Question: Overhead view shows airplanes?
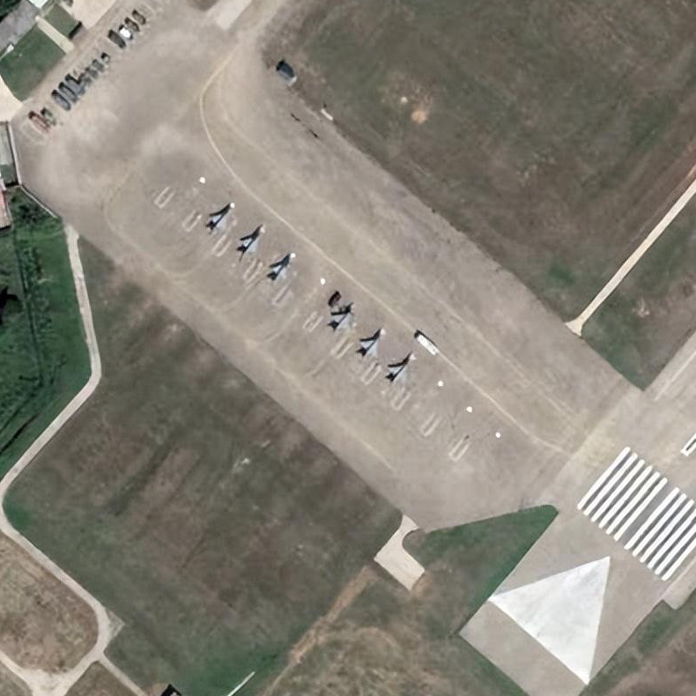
Yes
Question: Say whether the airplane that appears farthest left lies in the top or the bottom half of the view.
top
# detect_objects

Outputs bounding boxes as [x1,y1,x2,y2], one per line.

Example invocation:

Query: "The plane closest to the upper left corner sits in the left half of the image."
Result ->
[206,205,232,235]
